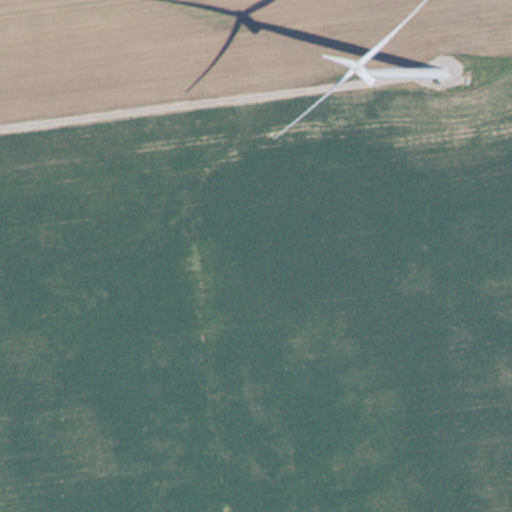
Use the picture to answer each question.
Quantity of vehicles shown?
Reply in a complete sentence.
There are no vehicles in the image.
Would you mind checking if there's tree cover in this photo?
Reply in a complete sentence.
No, there's no tree cover in this view.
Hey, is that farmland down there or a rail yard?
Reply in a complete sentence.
The picture captures farmland.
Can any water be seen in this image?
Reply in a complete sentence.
No, no water is visible.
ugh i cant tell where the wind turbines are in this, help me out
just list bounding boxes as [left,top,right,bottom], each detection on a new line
[275,0,452,138]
